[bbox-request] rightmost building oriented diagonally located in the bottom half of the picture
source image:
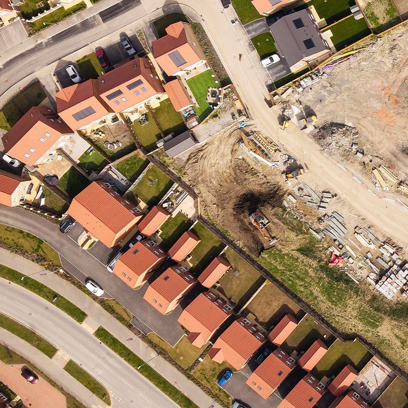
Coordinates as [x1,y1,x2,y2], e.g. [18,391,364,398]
[327,364,359,397]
